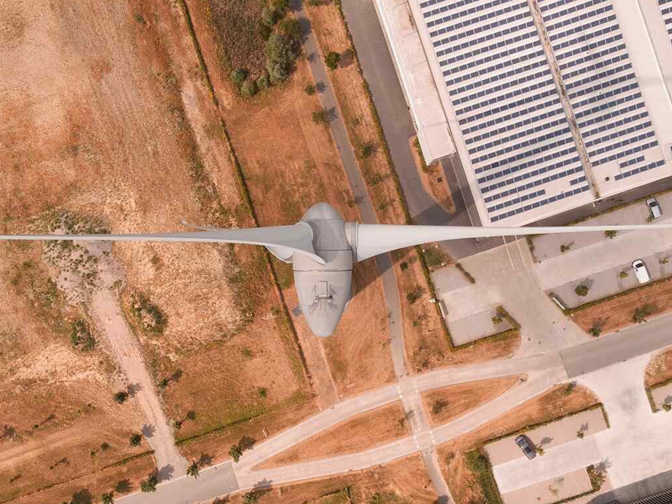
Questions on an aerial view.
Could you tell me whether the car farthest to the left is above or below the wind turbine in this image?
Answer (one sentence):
The car farthest to the left is below the wind turbine.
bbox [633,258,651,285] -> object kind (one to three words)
vehicle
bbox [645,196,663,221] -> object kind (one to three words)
car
